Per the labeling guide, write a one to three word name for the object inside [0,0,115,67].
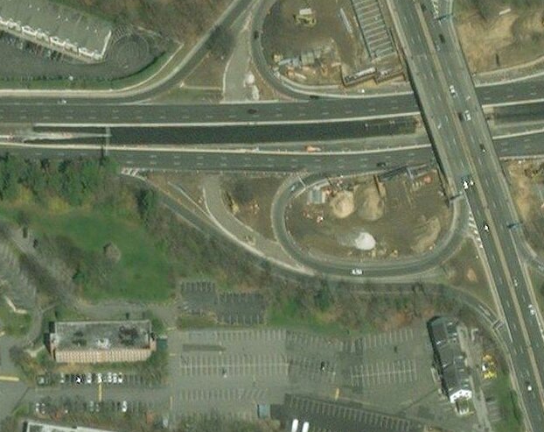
building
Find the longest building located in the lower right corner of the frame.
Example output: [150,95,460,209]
[427,318,473,416]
